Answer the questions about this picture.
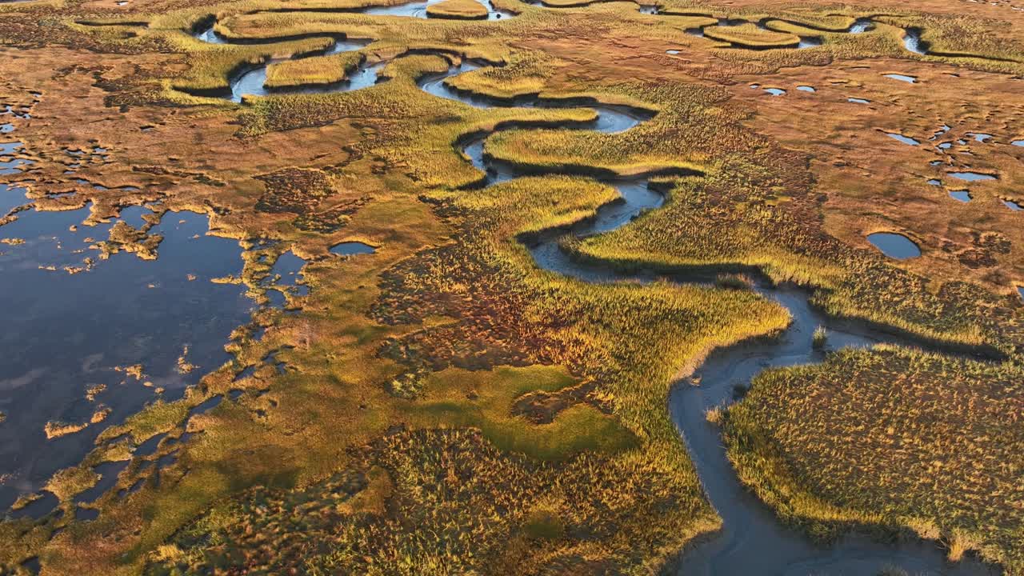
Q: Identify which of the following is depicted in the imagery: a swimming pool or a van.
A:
swimming pool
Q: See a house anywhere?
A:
No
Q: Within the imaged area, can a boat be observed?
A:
No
